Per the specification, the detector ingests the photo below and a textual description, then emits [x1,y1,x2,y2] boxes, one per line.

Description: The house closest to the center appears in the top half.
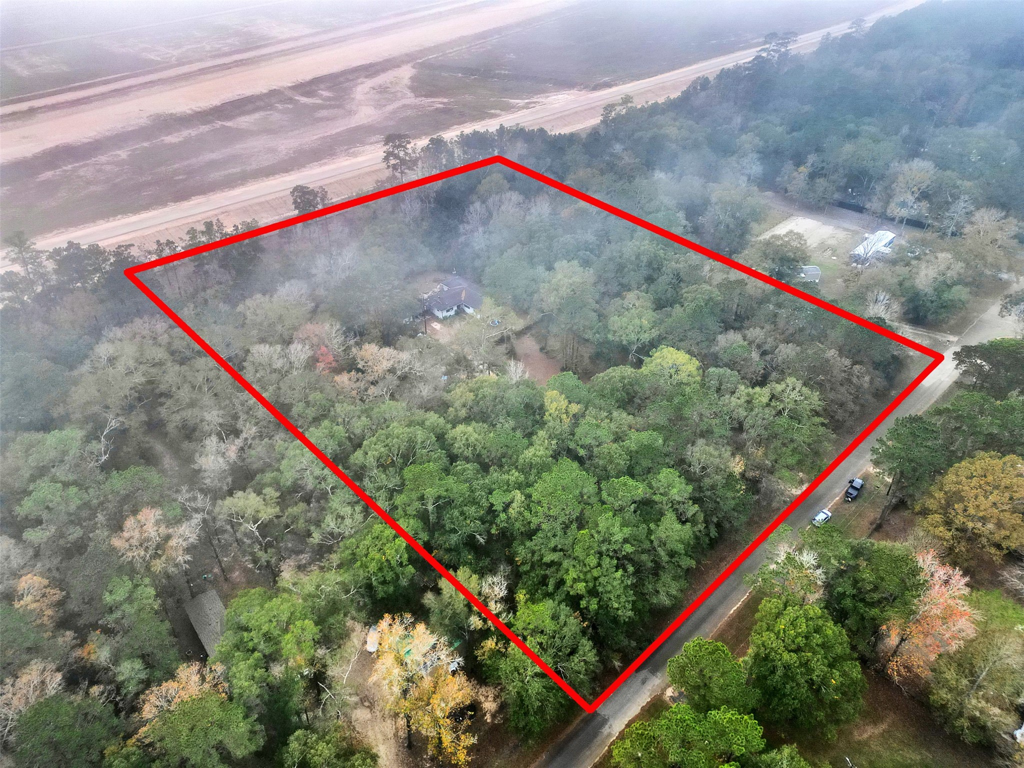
[424,275,508,320]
